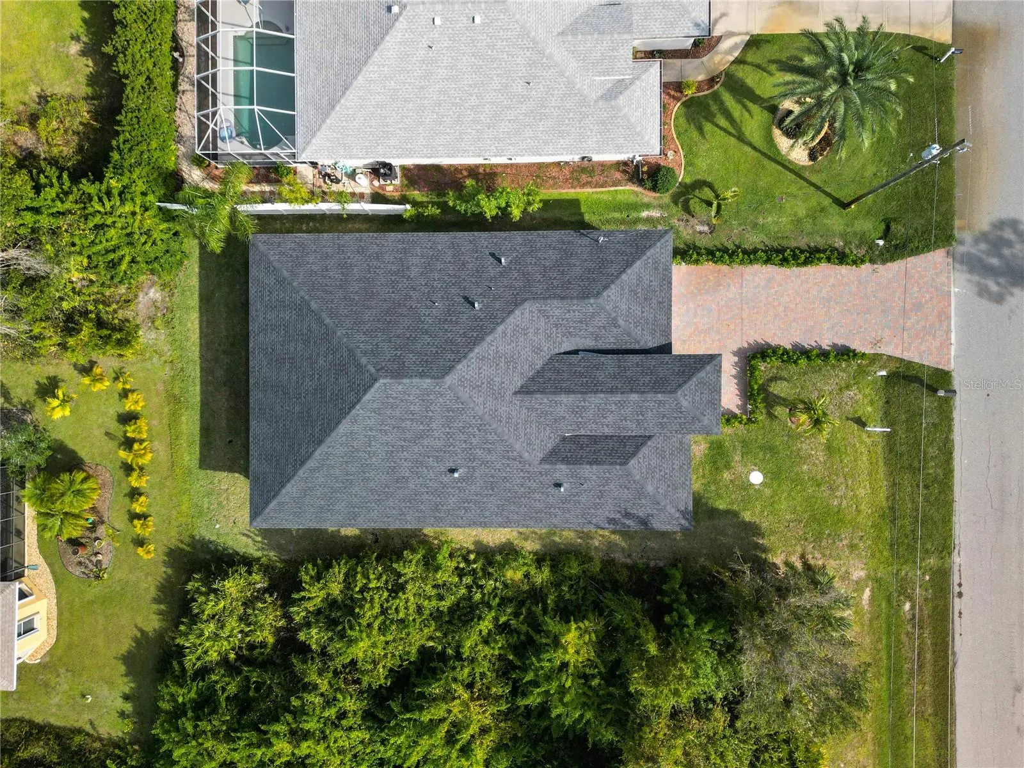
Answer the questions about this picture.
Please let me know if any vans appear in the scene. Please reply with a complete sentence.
No, the scene contains no van.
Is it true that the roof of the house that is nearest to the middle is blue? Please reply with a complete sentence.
No, the color of the roof of the house that is nearest to the middle is gray.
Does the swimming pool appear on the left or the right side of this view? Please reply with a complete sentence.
You can find the swimming pool on the left side of the picture.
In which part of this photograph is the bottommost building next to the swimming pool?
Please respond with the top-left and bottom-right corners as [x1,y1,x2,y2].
[248,229,724,533]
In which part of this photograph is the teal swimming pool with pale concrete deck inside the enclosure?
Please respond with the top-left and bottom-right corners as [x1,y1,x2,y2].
[218,0,321,166]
